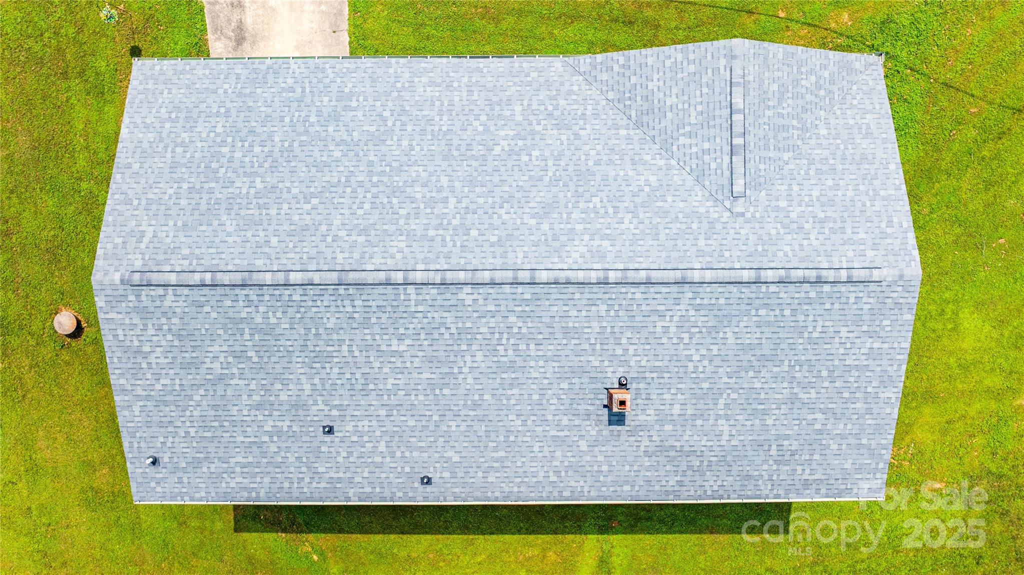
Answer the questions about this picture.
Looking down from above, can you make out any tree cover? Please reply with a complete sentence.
No, there's no tree cover in this view.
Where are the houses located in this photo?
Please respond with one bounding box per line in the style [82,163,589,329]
[92,37,923,505]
